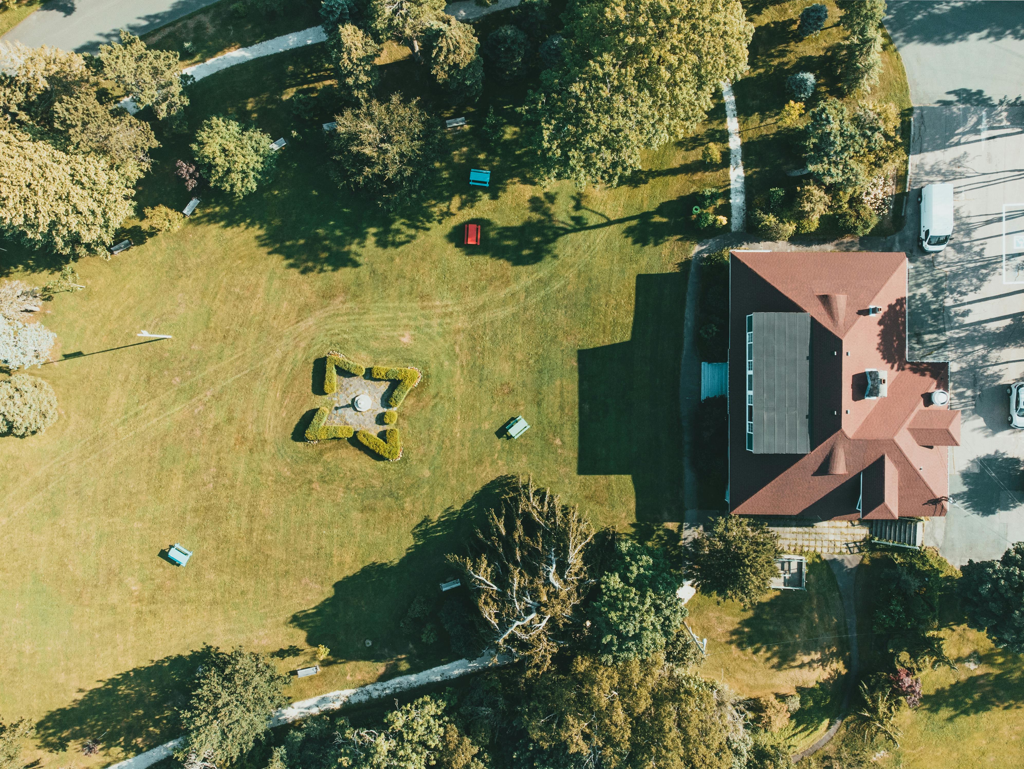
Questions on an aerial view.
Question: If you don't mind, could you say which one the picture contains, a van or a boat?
van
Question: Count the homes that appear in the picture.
1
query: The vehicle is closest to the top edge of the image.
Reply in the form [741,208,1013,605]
[917,180,956,256]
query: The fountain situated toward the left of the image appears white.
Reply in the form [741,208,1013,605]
[354,394,372,411]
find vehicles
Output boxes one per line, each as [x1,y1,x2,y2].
[917,180,956,256]
[1006,383,1024,428]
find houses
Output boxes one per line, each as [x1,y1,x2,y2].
[721,251,961,518]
